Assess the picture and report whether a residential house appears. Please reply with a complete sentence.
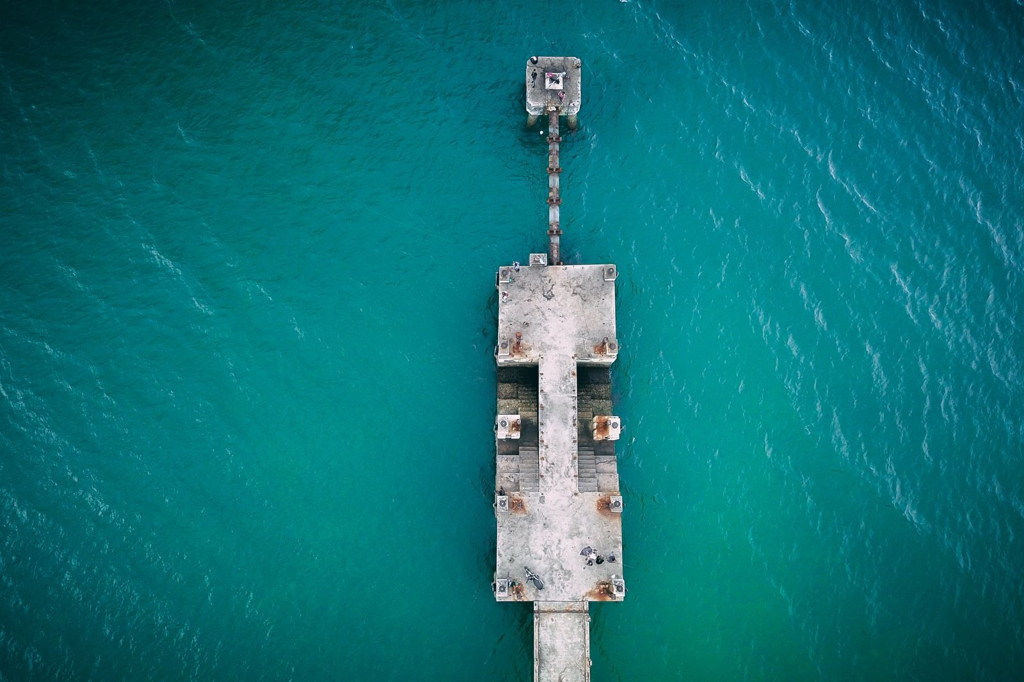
No, there appears to be no residential house in this shot.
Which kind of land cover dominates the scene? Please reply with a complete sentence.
The scene is dominated by water.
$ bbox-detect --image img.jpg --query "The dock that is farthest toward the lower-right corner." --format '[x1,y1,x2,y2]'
[591,416,620,441]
